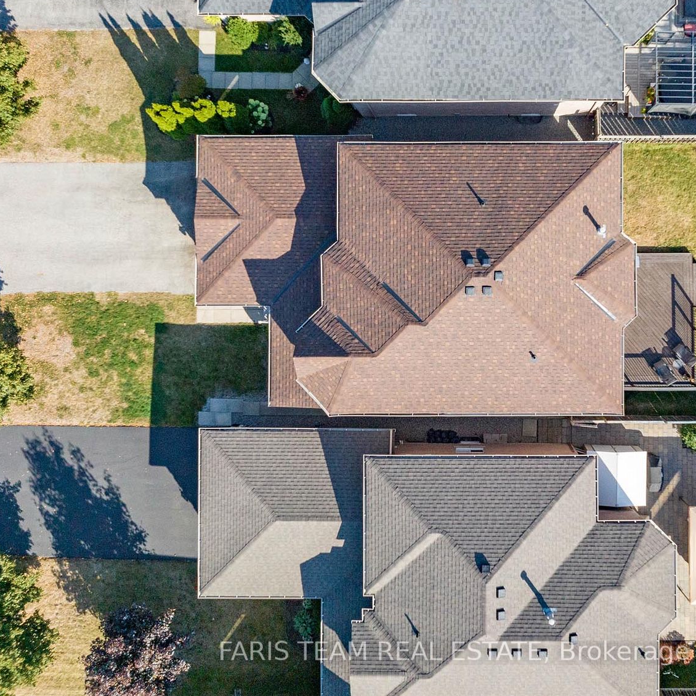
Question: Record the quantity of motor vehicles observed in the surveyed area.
0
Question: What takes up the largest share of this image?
buildings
